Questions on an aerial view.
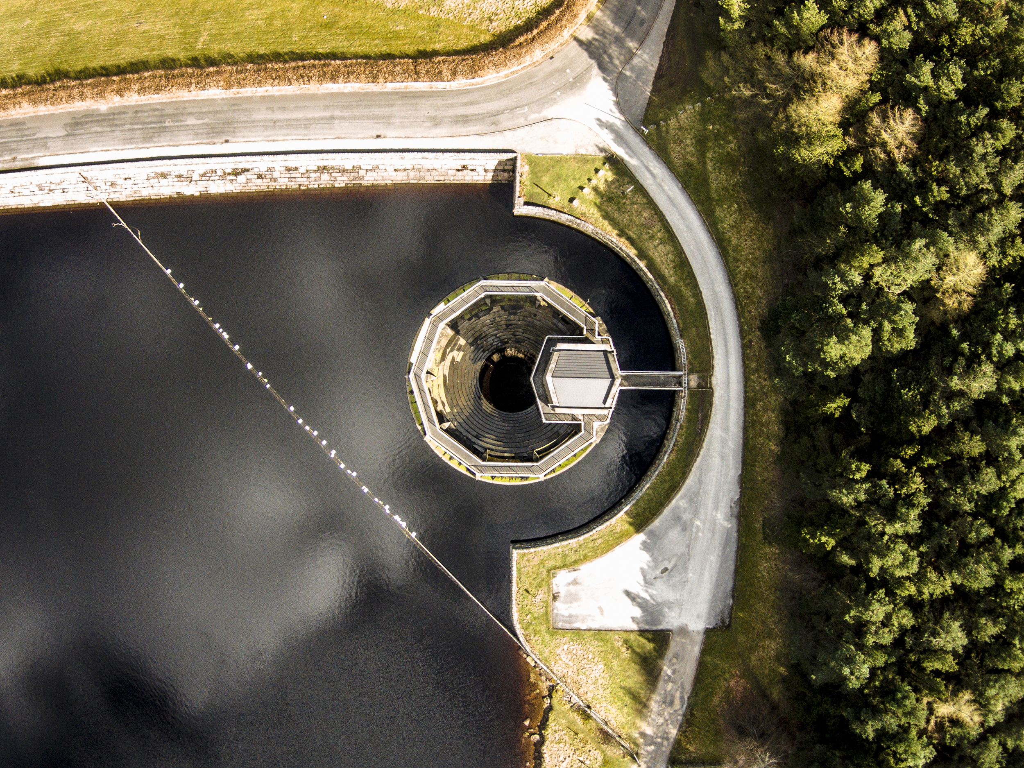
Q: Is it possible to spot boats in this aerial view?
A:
No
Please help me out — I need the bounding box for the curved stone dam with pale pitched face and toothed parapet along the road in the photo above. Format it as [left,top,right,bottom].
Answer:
[0,150,518,230]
